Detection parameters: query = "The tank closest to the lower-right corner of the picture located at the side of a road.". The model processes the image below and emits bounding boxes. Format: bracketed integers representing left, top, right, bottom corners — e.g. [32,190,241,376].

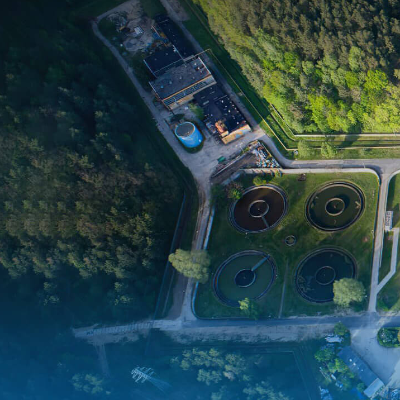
[294,247,356,305]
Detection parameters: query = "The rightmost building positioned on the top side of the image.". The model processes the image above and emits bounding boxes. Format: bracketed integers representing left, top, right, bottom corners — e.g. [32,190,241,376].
[194,84,252,143]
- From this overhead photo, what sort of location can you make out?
industrial area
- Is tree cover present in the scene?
Yes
